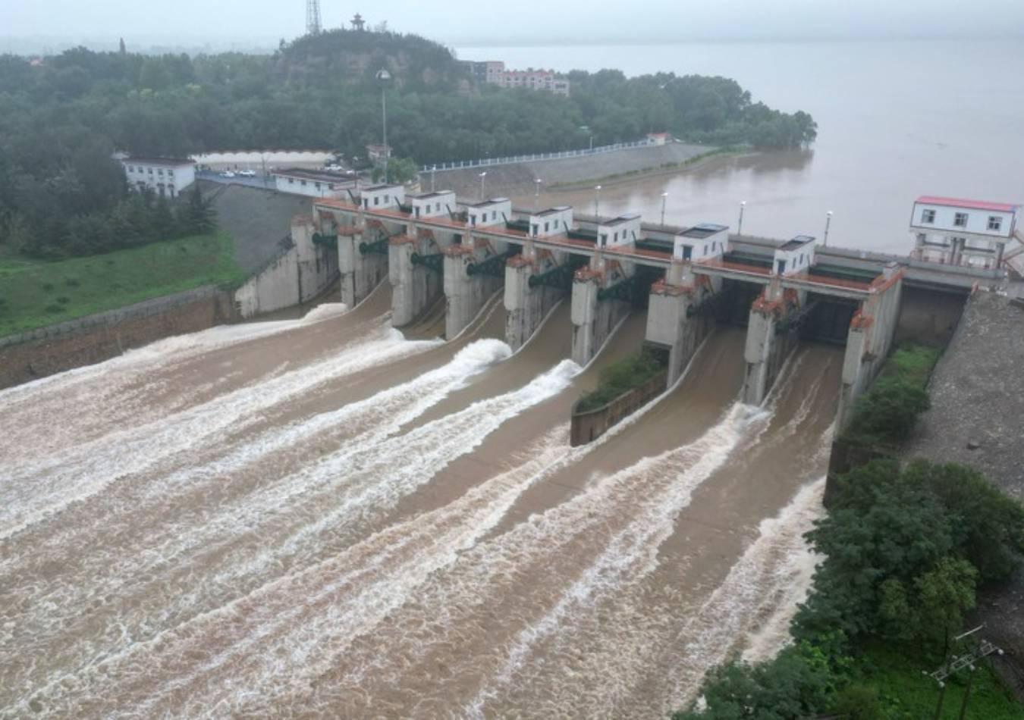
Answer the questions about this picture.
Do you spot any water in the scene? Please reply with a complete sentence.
Yes, water shows up in the scene.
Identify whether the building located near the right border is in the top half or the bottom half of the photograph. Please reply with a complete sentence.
Seen from above, the building located near the right border lies in the top half of the view.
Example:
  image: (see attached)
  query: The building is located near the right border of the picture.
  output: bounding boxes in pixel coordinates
[901,189,1024,276]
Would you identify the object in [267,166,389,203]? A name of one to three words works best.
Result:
building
